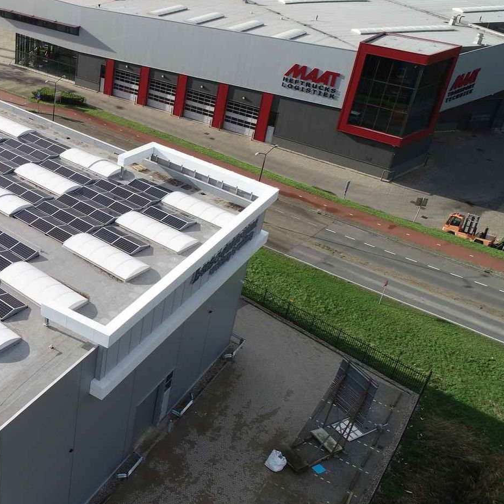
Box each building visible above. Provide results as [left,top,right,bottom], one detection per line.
[0,101,280,504]
[0,0,504,181]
